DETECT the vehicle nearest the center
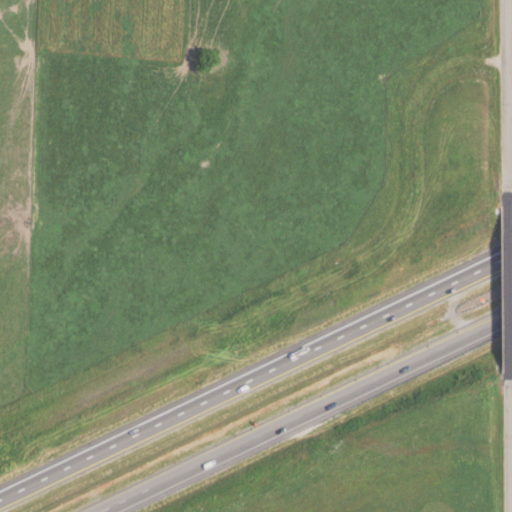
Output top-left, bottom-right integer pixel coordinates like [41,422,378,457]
[289,348,310,361]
